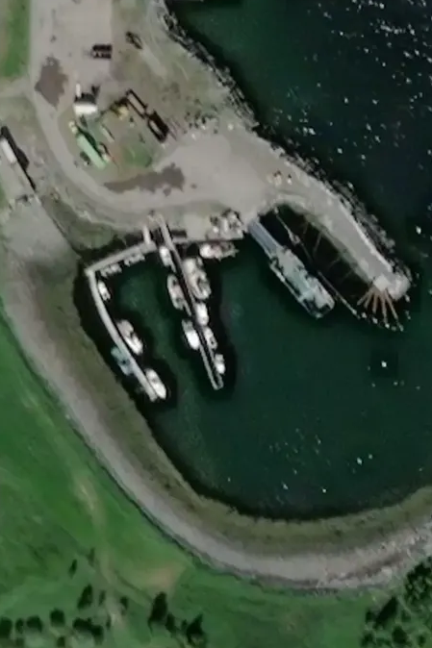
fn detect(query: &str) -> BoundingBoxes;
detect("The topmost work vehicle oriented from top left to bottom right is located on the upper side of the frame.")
[112,100,130,118]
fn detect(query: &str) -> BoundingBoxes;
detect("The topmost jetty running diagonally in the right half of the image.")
[156,0,418,301]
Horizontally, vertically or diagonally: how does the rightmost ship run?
diagonally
